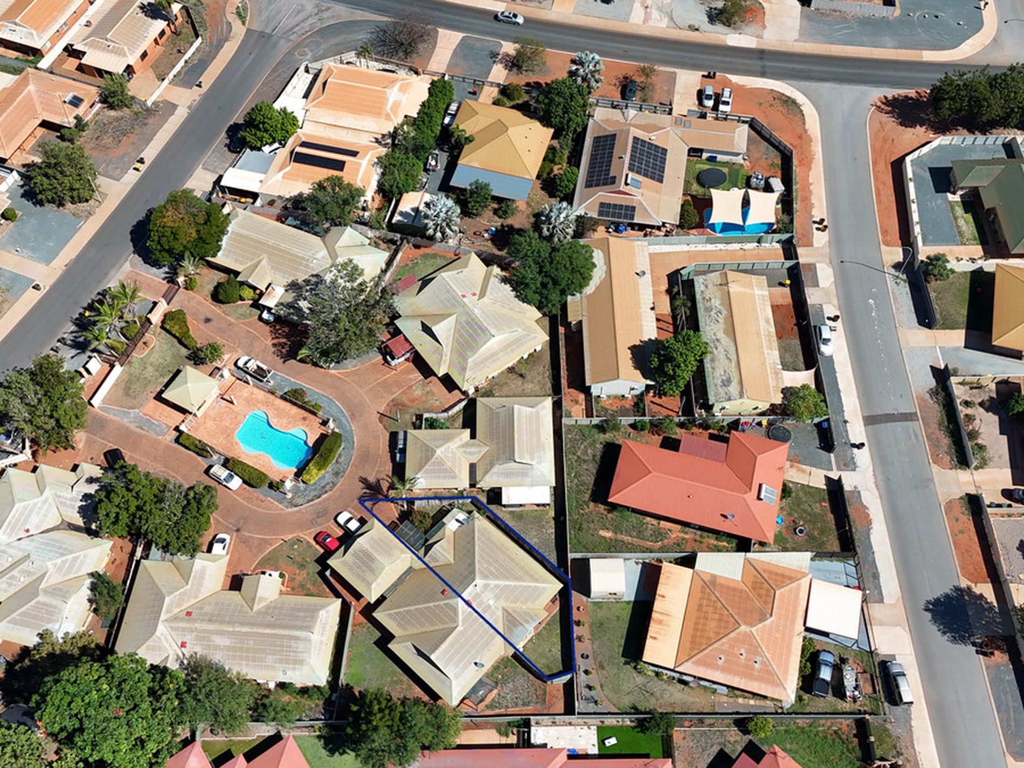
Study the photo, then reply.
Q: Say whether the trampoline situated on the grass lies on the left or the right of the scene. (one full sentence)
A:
You can find the trampoline situated on the grass on the right side of the picture.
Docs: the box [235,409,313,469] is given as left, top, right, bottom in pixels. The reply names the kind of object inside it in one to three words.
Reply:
swimming pool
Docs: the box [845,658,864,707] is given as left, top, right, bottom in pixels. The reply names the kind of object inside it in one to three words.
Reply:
boat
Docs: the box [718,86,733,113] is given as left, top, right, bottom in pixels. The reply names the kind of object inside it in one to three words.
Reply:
car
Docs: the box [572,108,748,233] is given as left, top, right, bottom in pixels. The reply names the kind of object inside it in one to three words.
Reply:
house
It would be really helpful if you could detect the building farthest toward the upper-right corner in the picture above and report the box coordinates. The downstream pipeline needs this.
[949,159,1024,261]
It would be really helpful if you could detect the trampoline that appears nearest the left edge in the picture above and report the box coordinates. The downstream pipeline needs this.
[699,166,727,187]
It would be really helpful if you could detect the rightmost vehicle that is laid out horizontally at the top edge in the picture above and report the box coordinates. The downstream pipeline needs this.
[495,11,524,27]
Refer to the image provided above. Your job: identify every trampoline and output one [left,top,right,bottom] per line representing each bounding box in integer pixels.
[699,166,727,187]
[767,423,792,443]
